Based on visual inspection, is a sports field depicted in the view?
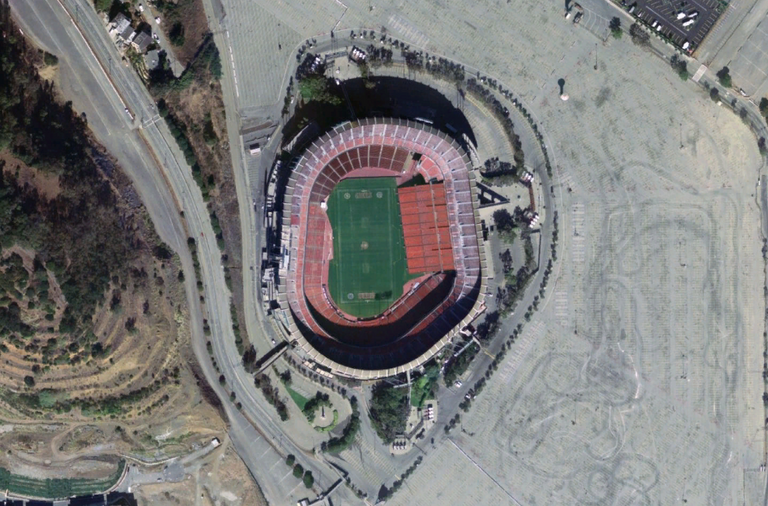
Yes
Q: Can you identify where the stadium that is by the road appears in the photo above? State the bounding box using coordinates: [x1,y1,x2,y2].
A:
[261,80,510,405]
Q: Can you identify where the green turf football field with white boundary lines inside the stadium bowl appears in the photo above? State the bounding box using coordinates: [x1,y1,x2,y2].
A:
[327,177,420,317]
